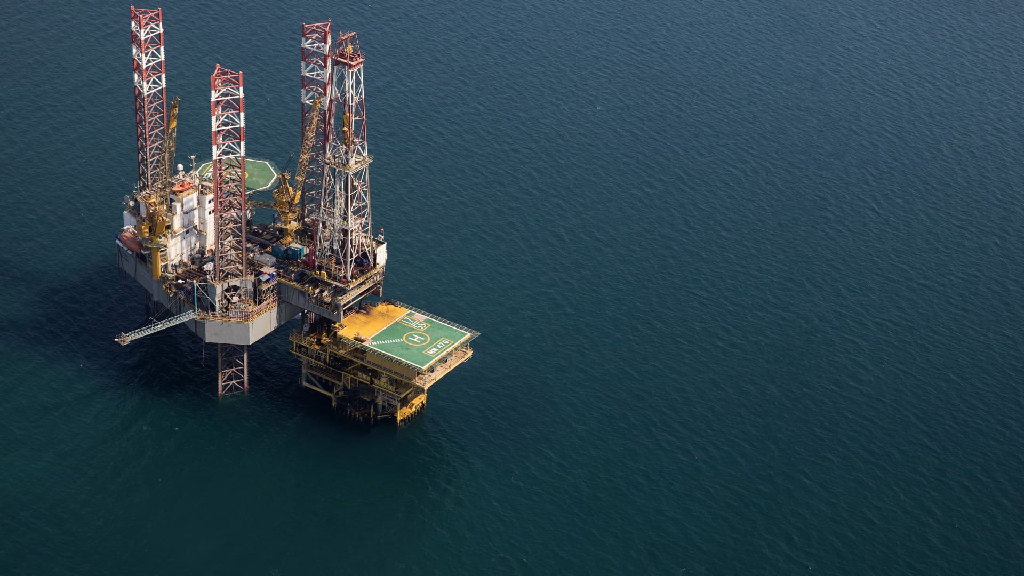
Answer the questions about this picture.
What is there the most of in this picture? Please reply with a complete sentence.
Most of the picture is covered by water.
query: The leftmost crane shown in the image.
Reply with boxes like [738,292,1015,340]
[138,96,182,282]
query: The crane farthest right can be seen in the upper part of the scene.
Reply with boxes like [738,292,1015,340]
[271,97,323,237]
